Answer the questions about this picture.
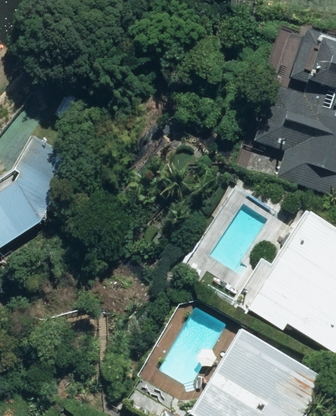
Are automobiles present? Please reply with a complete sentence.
No, no automobile can be seen from above.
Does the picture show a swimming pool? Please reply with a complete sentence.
Yes, there's a swimming pool here.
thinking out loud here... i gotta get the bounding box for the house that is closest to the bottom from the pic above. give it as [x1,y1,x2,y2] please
[190,330,322,416]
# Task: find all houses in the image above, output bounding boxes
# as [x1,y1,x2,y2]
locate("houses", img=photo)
[238,210,336,352]
[0,135,55,250]
[190,330,322,416]
[255,24,336,195]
